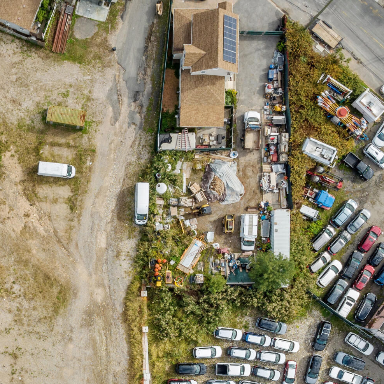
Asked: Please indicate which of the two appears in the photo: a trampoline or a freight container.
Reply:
freight container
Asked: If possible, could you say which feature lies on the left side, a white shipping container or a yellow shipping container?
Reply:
yellow shipping container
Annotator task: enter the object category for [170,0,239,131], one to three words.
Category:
house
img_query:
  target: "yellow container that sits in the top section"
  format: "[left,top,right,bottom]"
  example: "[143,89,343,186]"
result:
[46,105,87,131]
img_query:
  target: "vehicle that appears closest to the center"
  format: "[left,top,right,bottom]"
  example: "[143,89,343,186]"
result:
[186,204,212,216]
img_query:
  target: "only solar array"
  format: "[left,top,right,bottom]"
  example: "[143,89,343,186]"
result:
[224,8,238,62]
